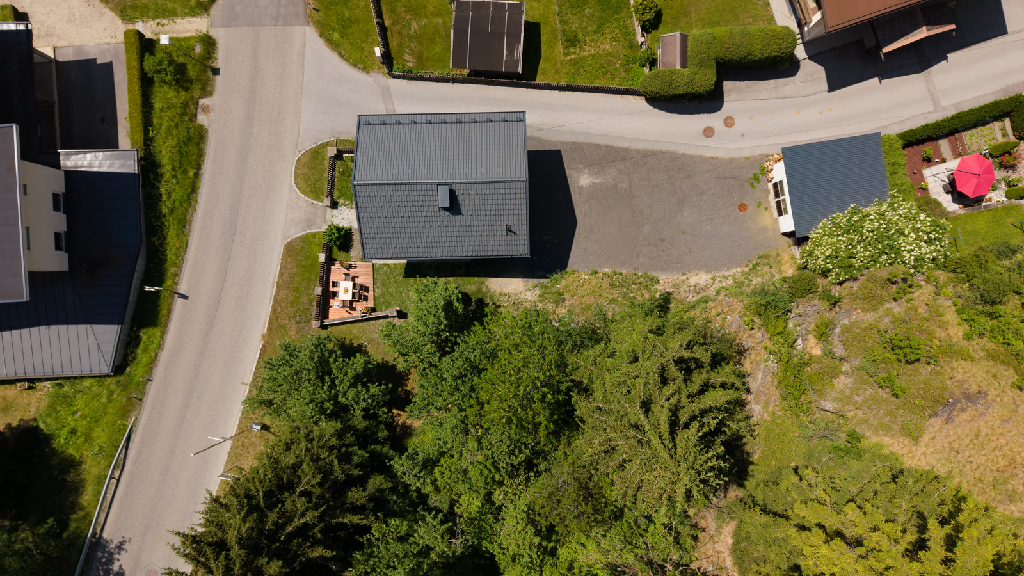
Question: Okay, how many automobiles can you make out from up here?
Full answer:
No automobiles are visible.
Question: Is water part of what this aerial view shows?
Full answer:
No, the scene doesn't show any water.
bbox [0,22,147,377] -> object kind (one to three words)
house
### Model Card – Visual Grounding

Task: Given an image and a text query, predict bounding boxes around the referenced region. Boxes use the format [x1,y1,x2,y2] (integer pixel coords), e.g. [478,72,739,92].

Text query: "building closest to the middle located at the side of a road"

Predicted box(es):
[349,109,530,262]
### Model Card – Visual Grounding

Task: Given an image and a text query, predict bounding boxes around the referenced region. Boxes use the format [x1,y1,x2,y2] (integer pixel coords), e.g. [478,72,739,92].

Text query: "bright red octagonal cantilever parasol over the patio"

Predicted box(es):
[914,153,996,198]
